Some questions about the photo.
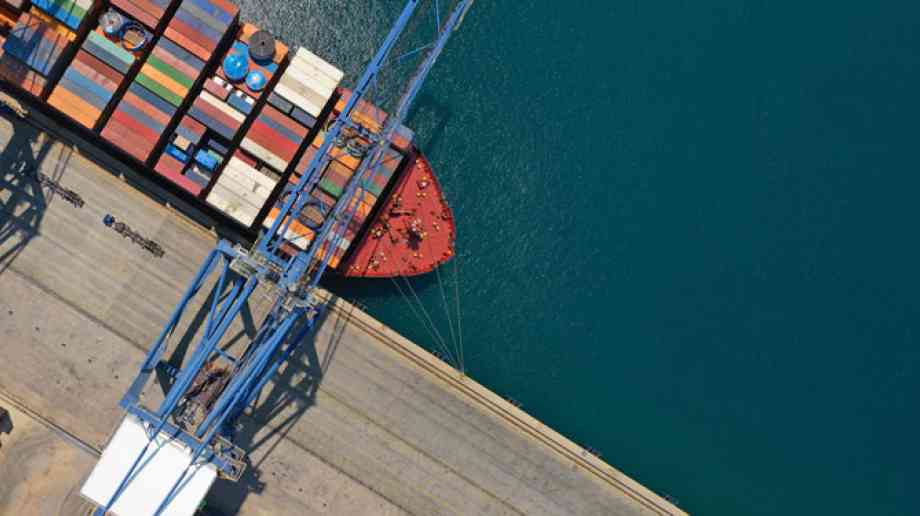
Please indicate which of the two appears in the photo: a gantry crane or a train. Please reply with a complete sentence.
I can see a gantry crane in this picture.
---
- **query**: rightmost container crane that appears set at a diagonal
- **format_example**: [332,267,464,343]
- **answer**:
[79,0,475,516]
